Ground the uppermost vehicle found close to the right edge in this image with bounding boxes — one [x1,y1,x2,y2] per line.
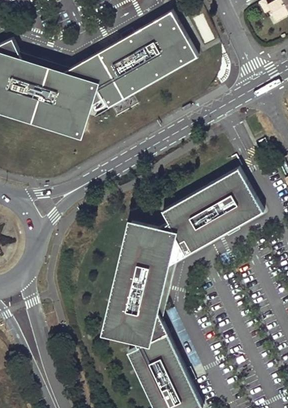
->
[253,78,282,98]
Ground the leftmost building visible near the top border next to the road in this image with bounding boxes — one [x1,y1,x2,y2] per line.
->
[0,9,200,142]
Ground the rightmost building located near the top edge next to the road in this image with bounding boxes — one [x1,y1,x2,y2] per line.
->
[258,0,288,22]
